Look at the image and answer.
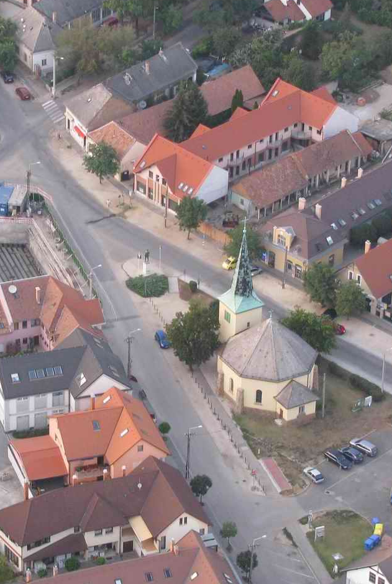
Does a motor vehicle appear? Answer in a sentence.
Yes, this view includes a motor vehicle.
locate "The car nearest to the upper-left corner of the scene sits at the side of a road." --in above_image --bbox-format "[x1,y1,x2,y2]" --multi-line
[0,69,17,85]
